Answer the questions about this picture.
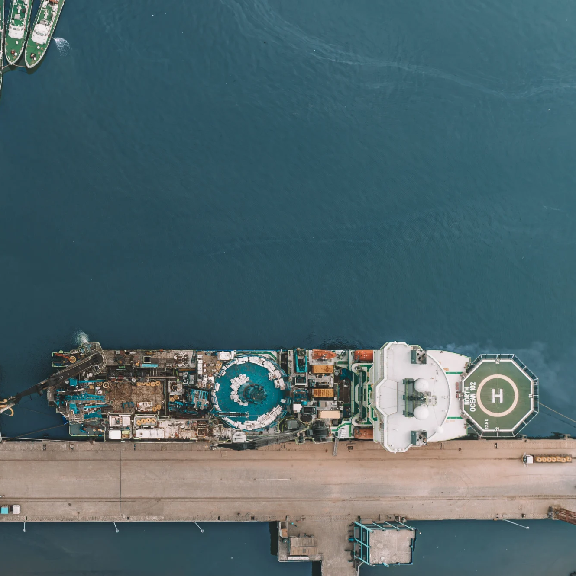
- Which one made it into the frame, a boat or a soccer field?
boat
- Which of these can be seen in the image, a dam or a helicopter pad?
helicopter pad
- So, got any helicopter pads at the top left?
No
